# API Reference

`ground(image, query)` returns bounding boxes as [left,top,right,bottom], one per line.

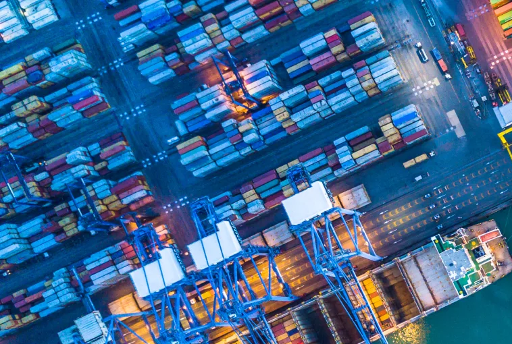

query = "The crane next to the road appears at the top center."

[209,48,270,113]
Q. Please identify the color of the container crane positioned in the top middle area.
blue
